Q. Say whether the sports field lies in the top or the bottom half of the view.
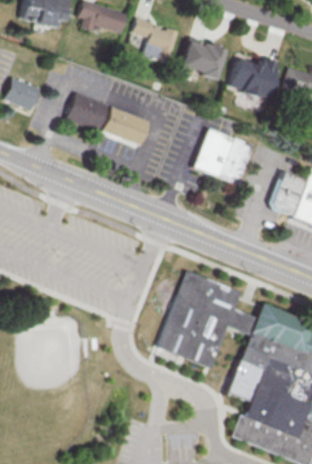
bottom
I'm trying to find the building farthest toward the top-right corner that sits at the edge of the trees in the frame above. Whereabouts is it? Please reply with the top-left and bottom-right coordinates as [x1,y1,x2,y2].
[284,64,312,91]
